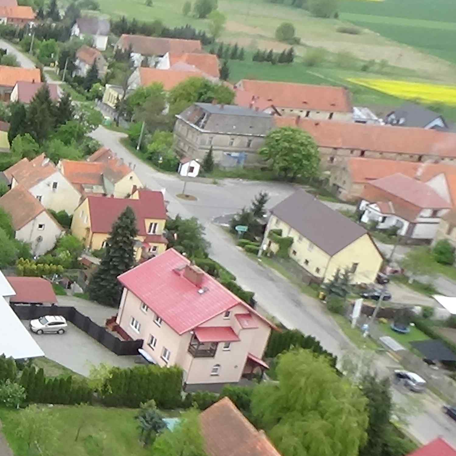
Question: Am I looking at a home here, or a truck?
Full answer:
The image shows a home.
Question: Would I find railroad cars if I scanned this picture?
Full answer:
No, this view has no railroad car in it.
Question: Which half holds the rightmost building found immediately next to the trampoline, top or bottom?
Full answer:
Seen from above, the rightmost building found immediately next to the trampoline lies in the bottom half of the view.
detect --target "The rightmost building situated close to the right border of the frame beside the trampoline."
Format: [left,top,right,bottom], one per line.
[403,338,456,379]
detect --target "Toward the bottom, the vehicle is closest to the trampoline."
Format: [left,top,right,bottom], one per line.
[359,286,392,301]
